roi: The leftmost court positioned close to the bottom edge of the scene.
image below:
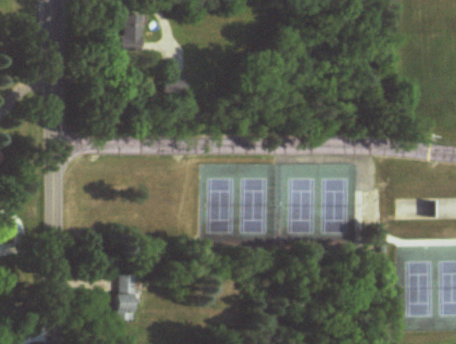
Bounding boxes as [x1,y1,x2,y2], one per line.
[396,246,435,330]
